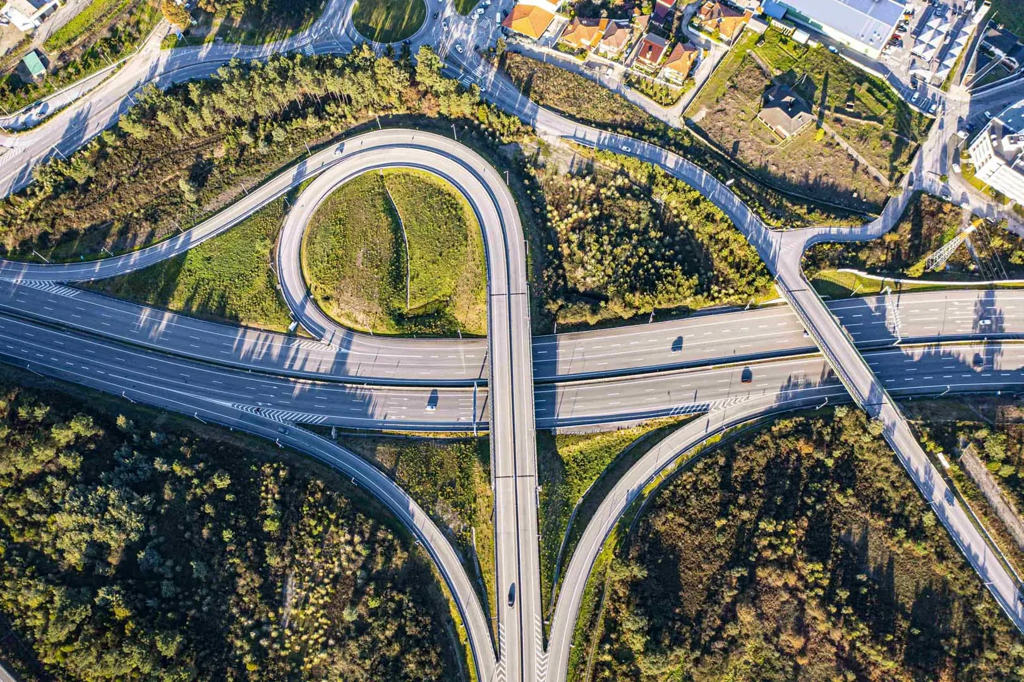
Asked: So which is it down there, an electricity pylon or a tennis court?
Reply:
electricity pylon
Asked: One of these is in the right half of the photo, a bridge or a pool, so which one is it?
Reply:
bridge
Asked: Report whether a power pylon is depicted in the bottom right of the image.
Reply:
No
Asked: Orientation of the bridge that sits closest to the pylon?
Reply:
on a diagonal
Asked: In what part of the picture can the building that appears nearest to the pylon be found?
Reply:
top right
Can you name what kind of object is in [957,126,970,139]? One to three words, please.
vehicle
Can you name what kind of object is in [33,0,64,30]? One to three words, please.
building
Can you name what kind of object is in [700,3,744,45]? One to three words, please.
house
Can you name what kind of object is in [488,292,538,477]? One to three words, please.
bridge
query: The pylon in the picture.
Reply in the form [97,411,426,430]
[915,216,980,275]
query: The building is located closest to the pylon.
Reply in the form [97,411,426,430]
[969,99,1024,211]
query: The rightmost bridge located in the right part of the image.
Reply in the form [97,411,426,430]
[777,281,904,418]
